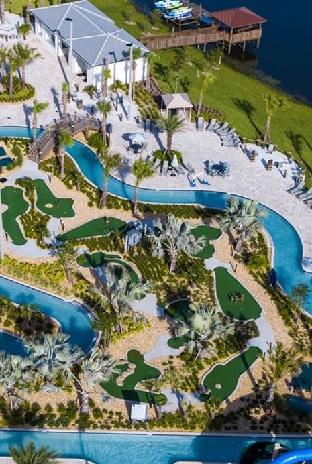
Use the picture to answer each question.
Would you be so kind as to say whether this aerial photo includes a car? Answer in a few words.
No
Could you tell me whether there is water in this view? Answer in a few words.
Yes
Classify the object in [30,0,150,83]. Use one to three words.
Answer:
building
